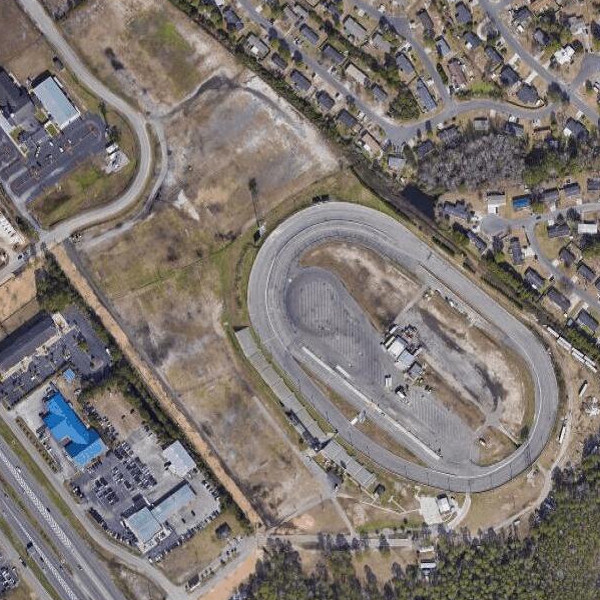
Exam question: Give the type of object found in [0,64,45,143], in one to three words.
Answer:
building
